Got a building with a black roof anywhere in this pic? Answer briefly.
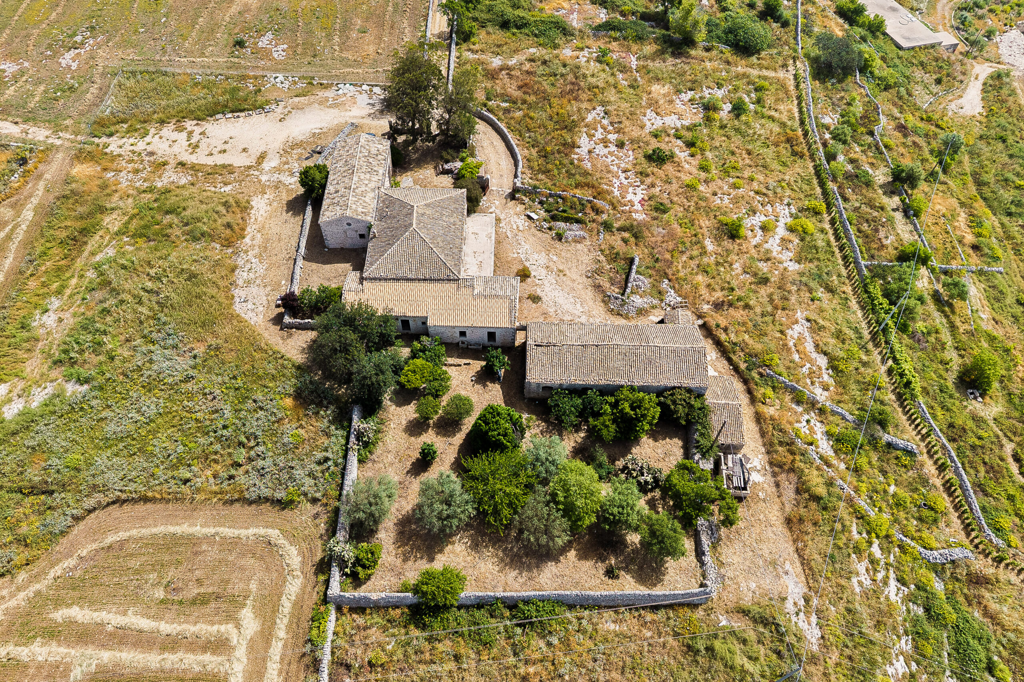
No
